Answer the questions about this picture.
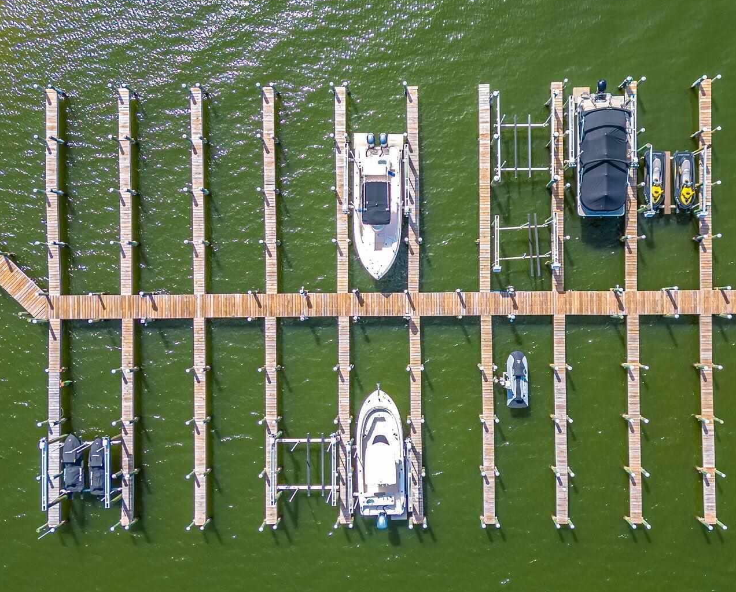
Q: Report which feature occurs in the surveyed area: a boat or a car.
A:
boat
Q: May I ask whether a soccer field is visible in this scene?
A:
No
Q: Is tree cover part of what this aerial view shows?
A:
No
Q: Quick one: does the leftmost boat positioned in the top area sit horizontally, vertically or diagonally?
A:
vertically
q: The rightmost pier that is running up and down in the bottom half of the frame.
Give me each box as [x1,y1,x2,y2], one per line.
[692,315,727,529]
